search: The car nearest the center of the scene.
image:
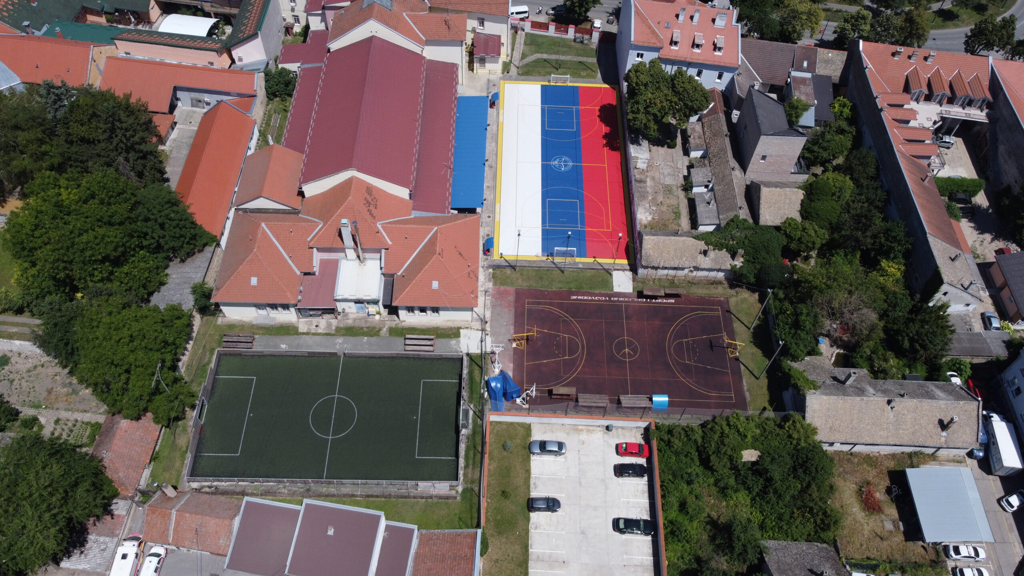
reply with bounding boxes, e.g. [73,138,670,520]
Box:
[529,438,566,457]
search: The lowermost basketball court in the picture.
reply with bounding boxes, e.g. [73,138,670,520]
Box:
[490,286,749,413]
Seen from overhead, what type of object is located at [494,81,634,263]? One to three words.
sports court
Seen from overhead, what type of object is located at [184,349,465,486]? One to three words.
soccer field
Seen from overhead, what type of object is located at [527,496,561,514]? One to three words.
car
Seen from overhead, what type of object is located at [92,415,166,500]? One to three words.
building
